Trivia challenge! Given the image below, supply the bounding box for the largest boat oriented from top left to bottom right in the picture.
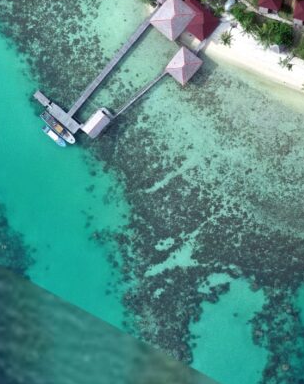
[40,110,75,143]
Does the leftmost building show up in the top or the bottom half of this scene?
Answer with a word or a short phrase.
top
